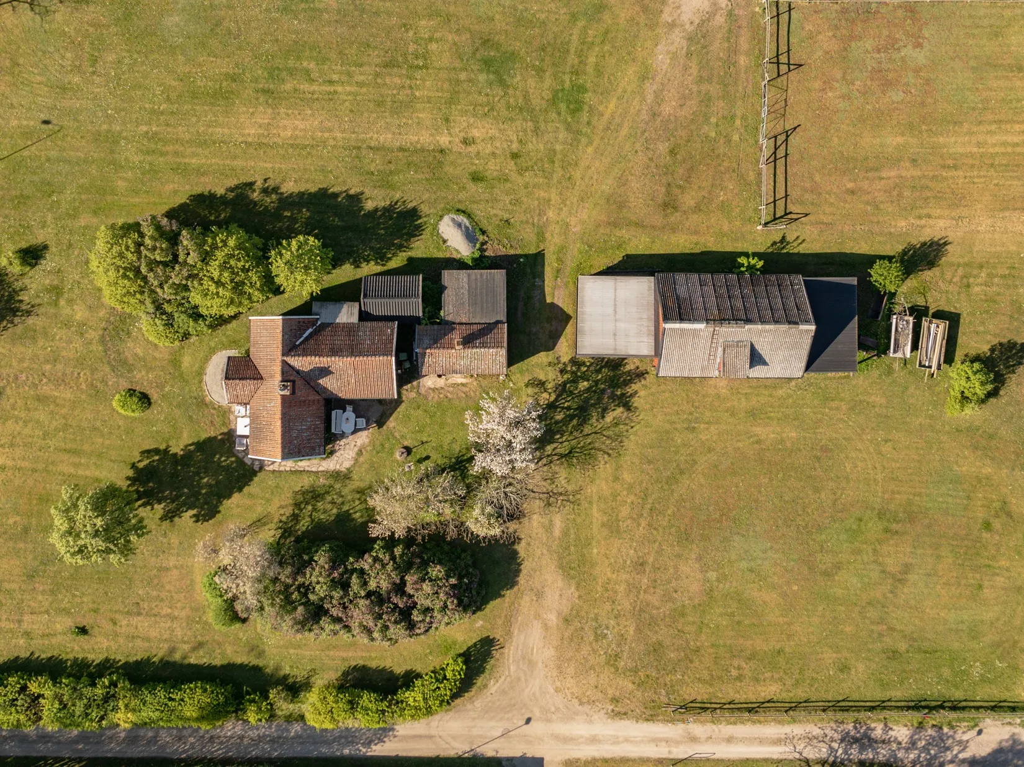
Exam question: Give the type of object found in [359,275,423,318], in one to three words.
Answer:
shed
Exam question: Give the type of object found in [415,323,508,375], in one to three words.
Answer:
shed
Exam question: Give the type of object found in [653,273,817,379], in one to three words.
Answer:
barn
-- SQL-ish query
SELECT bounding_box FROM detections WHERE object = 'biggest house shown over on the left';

[222,302,397,461]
